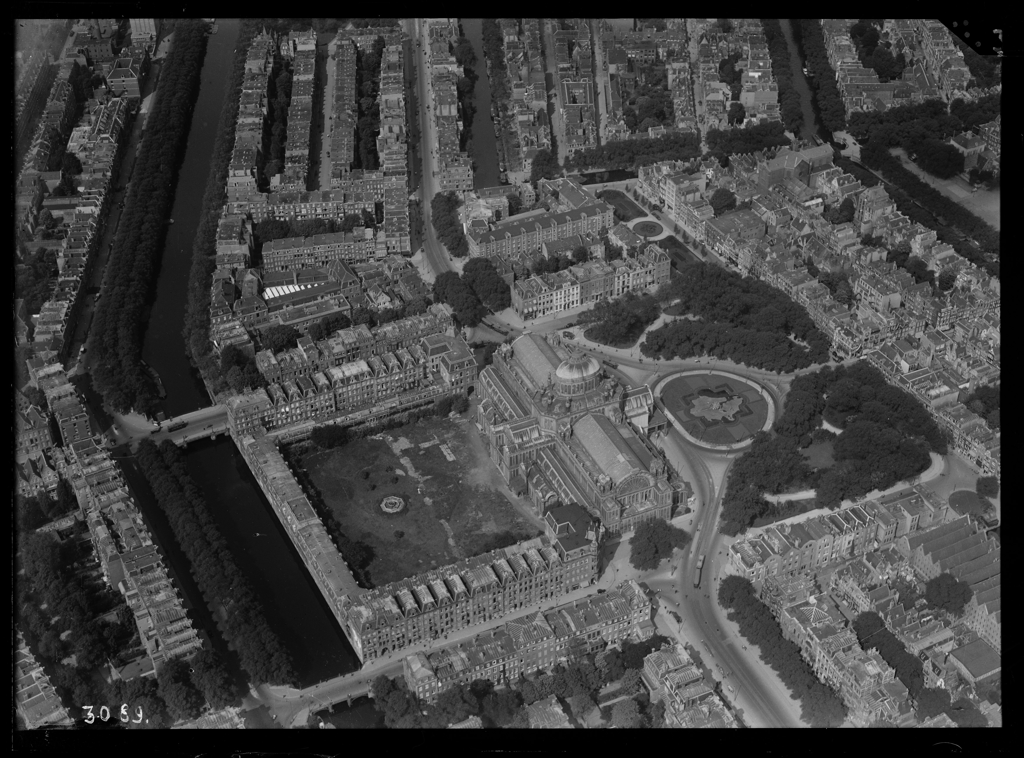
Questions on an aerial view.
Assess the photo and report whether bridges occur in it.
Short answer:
Yes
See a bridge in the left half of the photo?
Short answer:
Yes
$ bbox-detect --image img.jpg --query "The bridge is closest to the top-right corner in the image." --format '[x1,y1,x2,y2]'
[830,131,865,173]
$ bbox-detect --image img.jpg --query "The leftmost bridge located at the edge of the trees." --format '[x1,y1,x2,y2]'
[157,403,230,446]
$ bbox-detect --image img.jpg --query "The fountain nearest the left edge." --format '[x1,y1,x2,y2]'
[380,495,404,513]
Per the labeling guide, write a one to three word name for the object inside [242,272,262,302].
building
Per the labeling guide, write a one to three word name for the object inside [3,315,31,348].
building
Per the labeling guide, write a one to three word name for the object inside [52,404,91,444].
house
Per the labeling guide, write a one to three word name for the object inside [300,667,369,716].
bridge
